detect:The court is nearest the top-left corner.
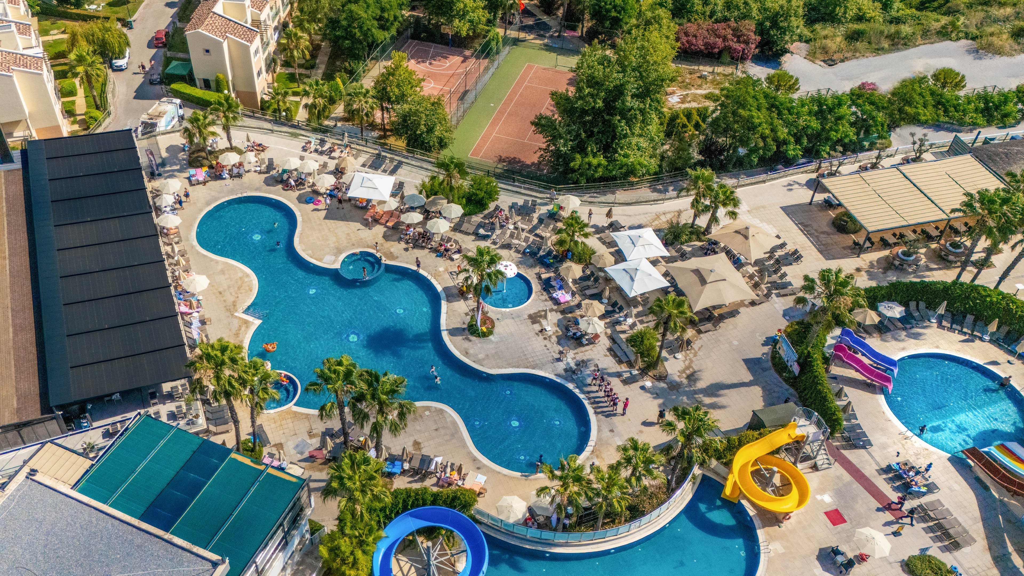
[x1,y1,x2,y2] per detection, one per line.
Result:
[348,40,489,125]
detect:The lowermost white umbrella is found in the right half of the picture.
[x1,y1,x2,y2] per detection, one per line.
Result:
[849,525,891,565]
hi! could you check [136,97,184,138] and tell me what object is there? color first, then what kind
white truck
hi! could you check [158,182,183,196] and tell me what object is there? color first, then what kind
white umbrella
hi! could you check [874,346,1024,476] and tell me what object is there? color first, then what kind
blue swimming pool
